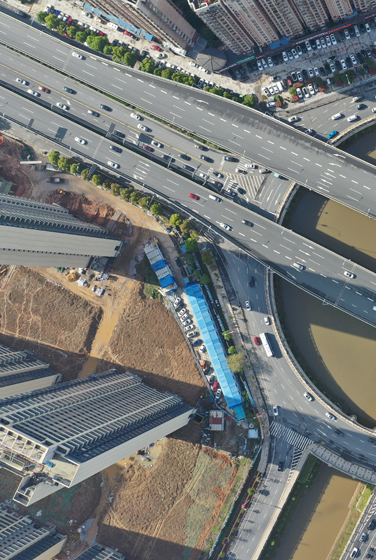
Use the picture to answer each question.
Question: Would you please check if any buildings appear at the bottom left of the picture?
Yes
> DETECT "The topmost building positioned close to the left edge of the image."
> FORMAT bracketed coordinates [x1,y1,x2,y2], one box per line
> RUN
[0,188,120,268]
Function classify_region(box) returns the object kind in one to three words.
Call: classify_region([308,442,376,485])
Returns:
bridge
